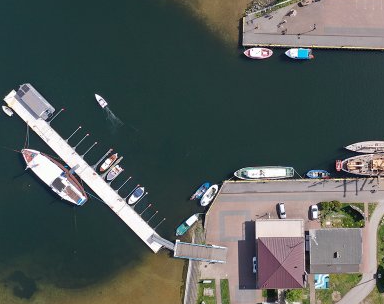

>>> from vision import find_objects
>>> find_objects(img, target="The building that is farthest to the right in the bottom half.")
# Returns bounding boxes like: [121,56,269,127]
[309,228,362,274]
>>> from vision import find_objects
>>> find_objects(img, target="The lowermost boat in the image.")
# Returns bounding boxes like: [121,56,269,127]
[175,211,206,236]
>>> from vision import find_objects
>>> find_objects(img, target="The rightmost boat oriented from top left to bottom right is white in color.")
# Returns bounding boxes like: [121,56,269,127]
[93,94,108,109]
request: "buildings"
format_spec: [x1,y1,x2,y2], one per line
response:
[309,228,362,274]
[256,235,308,289]
[12,85,53,121]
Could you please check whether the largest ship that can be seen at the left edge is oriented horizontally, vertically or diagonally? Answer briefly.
diagonally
